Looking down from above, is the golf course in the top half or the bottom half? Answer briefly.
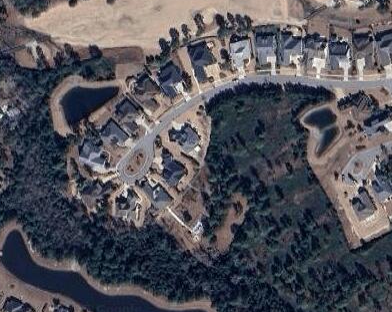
top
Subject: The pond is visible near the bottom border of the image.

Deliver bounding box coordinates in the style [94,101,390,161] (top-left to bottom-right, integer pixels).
[0,230,205,312]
